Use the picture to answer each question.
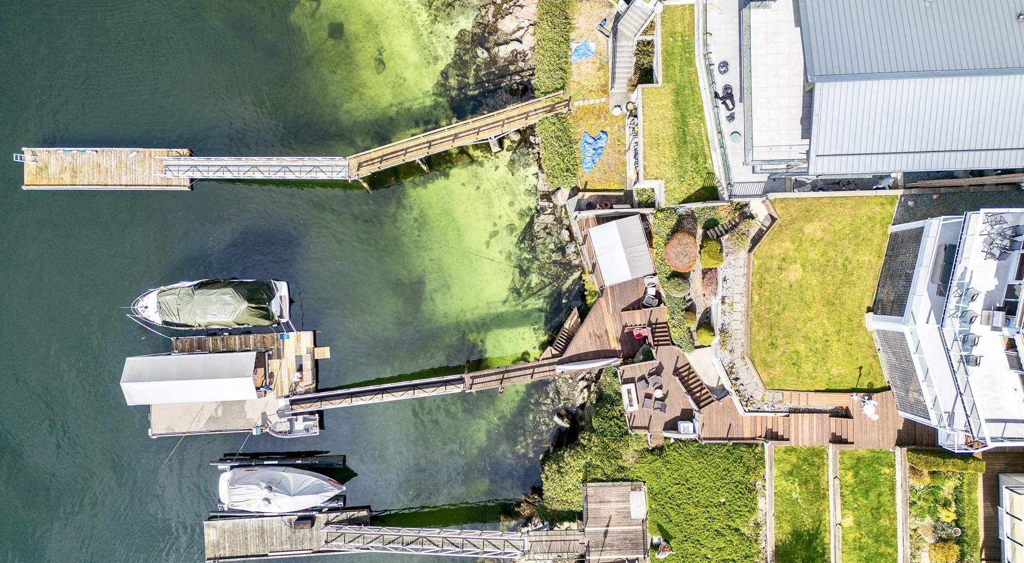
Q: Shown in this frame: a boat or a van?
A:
boat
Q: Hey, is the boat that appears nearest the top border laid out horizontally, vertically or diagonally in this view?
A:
horizontally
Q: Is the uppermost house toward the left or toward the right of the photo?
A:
right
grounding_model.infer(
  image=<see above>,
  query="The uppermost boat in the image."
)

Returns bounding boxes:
[120,278,297,330]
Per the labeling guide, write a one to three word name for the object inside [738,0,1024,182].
house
